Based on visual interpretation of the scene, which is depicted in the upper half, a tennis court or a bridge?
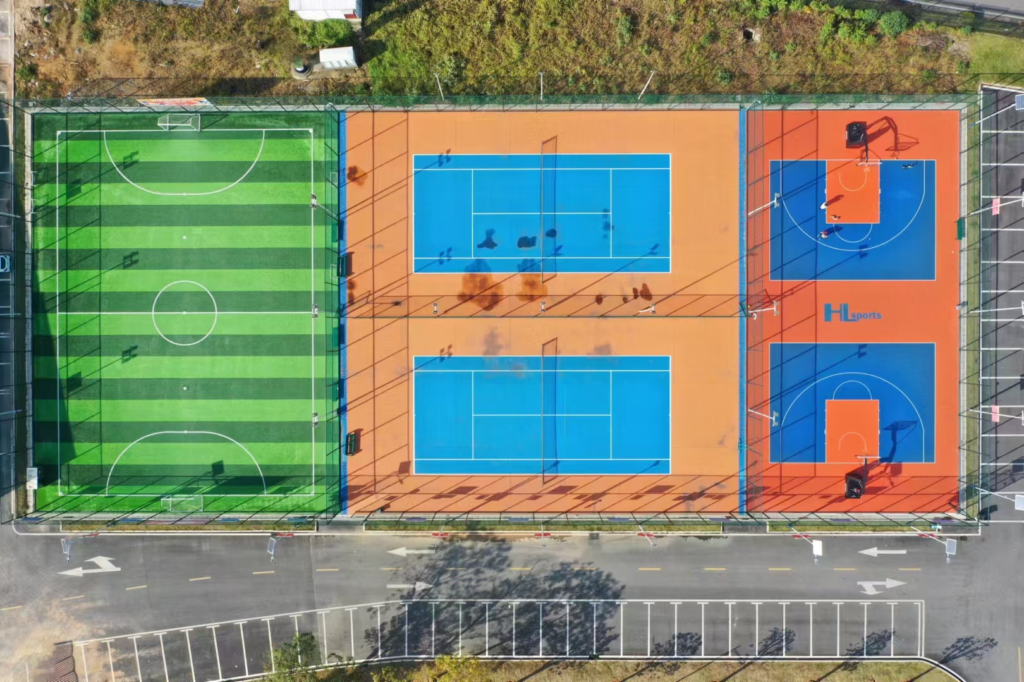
tennis court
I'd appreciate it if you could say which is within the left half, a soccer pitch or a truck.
soccer pitch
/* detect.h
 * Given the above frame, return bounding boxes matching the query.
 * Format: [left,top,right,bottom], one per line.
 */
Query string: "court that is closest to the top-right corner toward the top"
[769,160,936,281]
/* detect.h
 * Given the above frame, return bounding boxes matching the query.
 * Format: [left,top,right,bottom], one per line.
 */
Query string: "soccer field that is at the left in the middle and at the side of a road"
[32,113,342,512]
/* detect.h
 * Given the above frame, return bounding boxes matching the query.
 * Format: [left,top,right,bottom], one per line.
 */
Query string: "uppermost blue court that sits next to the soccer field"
[413,153,671,273]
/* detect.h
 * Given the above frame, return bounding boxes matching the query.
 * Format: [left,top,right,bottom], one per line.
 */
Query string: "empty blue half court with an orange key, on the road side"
[769,343,936,464]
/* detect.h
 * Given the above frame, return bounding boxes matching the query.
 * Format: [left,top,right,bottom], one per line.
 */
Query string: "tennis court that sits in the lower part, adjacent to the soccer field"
[413,356,671,475]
